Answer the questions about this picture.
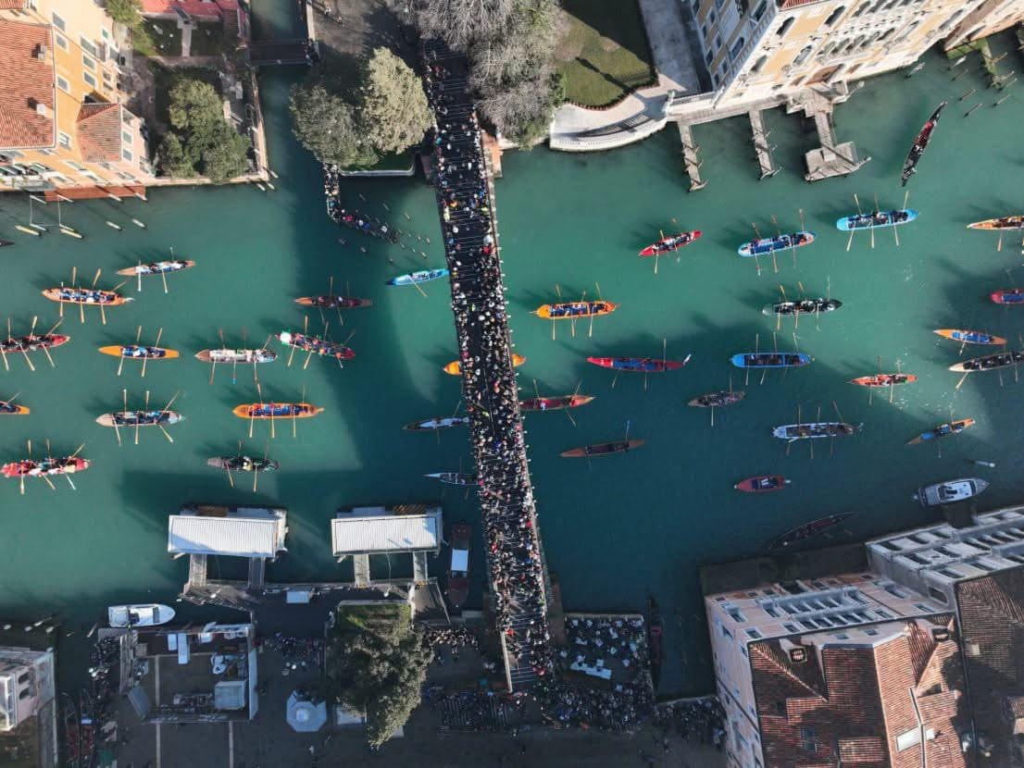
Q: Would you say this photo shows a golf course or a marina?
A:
marina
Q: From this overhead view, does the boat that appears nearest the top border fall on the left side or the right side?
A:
right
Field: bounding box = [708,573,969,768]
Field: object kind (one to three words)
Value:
building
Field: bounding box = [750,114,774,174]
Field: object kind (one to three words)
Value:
pier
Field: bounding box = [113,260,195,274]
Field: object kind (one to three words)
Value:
boat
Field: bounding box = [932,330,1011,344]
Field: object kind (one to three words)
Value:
boat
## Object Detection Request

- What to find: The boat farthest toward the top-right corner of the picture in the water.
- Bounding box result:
[902,93,958,186]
